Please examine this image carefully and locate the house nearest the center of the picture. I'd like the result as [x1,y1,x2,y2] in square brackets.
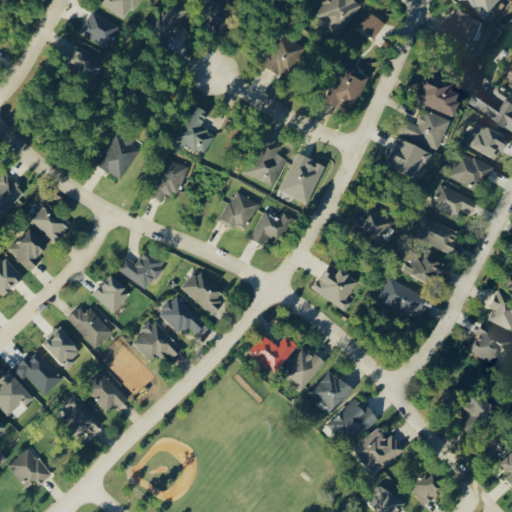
[248,216,288,250]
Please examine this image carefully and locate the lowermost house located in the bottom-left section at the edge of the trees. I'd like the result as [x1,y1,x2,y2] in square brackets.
[6,446,52,492]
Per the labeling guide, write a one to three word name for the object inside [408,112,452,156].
house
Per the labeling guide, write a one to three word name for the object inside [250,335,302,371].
house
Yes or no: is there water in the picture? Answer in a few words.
No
